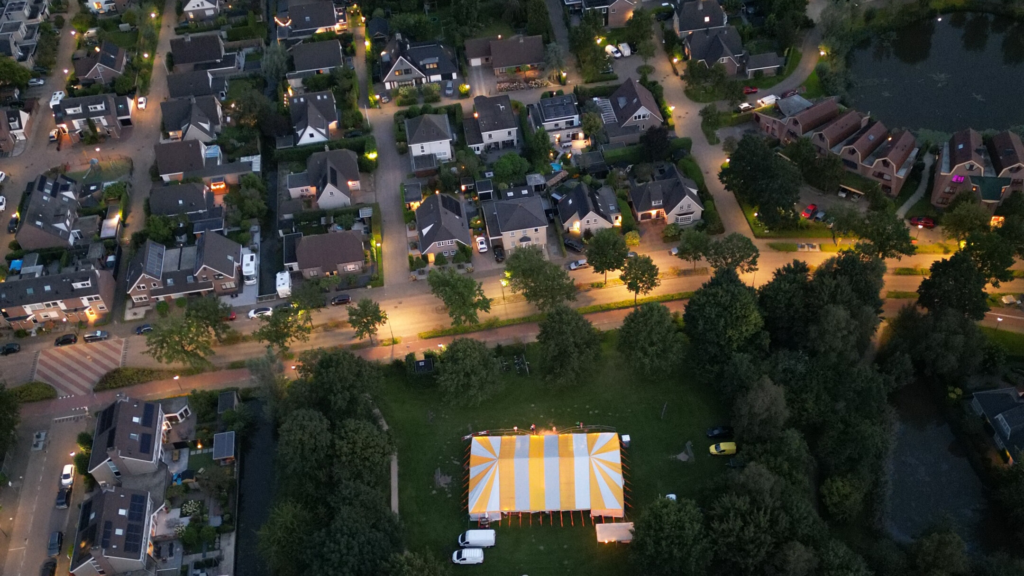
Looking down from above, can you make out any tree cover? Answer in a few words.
Yes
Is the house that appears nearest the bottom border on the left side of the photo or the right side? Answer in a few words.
left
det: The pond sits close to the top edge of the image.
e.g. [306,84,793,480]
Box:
[847,9,1024,137]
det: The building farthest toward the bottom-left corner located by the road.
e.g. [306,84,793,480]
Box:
[68,484,169,576]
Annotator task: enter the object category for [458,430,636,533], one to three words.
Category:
tent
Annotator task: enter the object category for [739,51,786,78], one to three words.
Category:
building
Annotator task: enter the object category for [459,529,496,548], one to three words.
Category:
vehicle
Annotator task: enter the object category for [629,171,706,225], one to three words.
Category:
house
